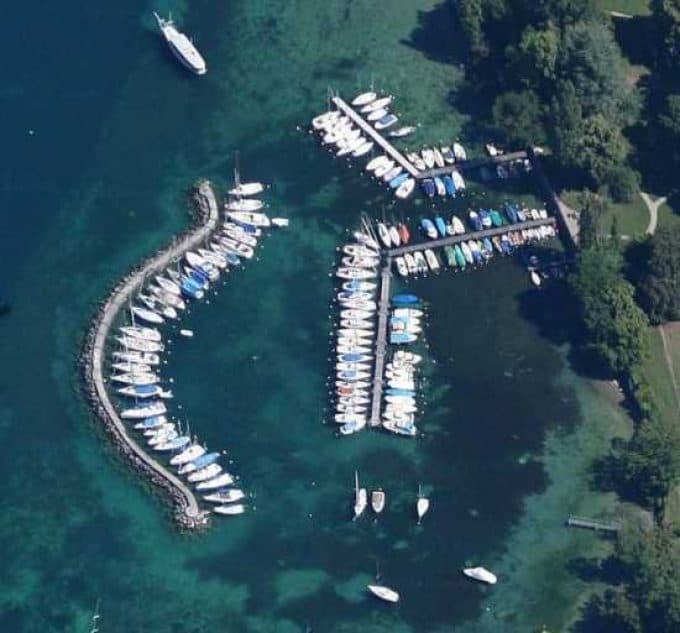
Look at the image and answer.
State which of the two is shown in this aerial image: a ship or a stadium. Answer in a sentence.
The image shows a ship.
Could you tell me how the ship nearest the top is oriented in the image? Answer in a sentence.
The ship nearest the top has been laid out at an angle relative to the frame.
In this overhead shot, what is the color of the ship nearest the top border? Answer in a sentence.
The color of the ship nearest the top border is white.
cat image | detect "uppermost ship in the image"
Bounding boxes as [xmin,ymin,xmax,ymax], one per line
[153,13,211,79]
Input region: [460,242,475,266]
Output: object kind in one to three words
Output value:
boat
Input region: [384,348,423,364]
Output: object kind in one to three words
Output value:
boat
